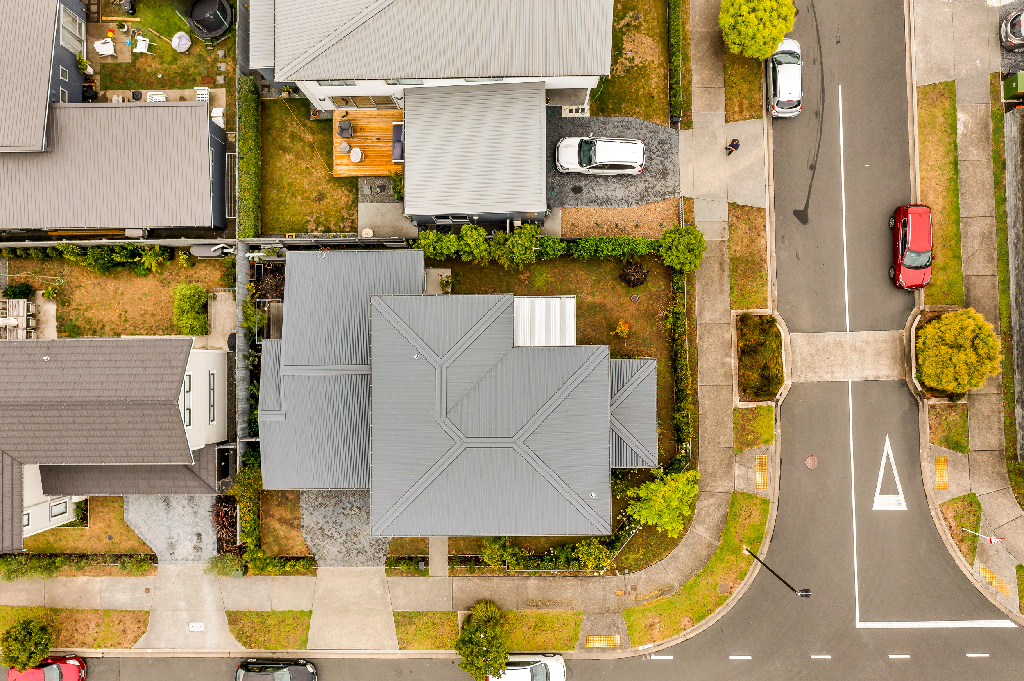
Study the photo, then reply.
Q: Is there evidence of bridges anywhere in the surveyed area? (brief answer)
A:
No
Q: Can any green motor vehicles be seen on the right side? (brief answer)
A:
No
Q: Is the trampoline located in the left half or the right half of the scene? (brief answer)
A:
left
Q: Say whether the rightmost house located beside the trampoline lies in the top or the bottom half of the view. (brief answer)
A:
top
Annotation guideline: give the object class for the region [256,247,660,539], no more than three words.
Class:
house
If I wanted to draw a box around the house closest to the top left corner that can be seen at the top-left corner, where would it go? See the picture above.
[0,0,230,230]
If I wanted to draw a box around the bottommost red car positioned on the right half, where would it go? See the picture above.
[886,204,936,292]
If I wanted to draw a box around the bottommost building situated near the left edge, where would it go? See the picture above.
[0,337,229,556]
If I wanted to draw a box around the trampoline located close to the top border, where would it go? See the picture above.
[177,0,235,50]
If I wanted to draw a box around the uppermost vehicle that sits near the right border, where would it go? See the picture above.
[999,13,1024,53]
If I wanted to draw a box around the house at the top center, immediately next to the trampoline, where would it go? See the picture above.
[246,0,615,226]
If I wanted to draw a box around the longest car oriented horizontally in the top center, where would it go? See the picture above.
[554,131,647,177]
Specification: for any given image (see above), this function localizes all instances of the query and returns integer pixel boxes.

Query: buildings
[0,337,229,556]
[246,0,615,226]
[0,0,230,230]
[256,247,660,539]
